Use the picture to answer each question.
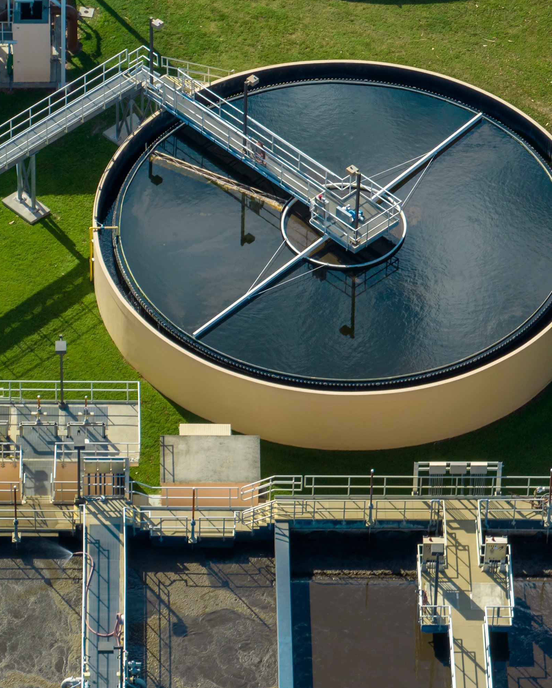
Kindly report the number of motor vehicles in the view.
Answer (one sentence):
The count of motor vehicles is 0.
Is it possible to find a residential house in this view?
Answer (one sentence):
No, no residential house can be seen from above.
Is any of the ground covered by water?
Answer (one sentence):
Yes, there is water in the image.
